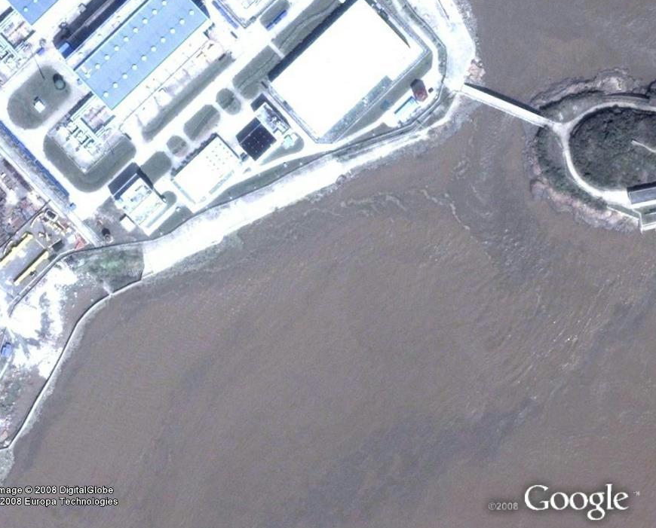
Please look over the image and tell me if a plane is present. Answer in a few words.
No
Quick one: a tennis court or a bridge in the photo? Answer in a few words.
bridge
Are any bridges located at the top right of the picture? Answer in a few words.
Yes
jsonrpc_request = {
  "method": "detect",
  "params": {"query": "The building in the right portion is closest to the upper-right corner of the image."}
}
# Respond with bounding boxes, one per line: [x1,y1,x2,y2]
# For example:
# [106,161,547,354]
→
[628,180,656,203]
